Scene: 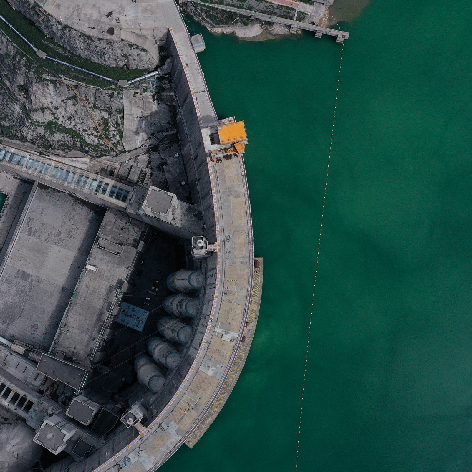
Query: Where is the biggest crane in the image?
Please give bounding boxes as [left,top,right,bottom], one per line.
[201,119,249,164]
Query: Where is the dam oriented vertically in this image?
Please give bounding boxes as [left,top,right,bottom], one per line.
[29,0,264,472]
